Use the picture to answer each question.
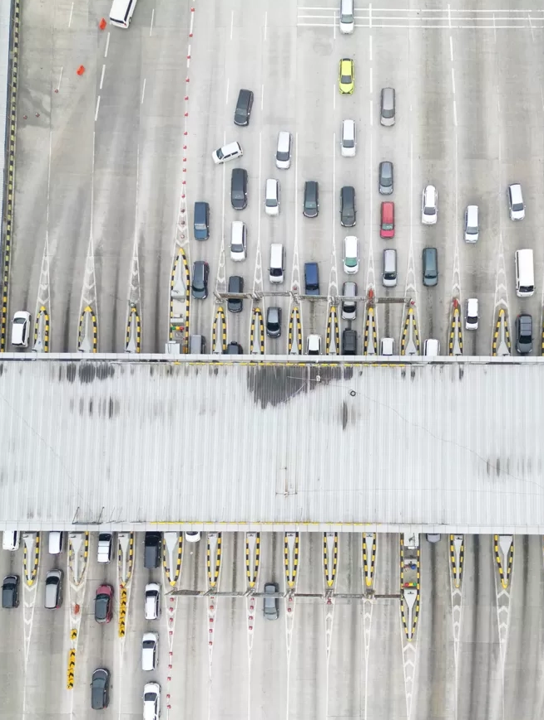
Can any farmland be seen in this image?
No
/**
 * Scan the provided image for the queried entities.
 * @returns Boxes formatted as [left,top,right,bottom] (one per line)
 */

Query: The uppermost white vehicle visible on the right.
[338,0,355,32]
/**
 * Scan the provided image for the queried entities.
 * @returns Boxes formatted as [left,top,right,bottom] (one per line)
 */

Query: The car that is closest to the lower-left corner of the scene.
[91,669,110,710]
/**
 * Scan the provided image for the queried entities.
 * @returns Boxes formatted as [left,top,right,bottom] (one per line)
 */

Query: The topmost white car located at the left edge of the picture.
[14,314,32,345]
